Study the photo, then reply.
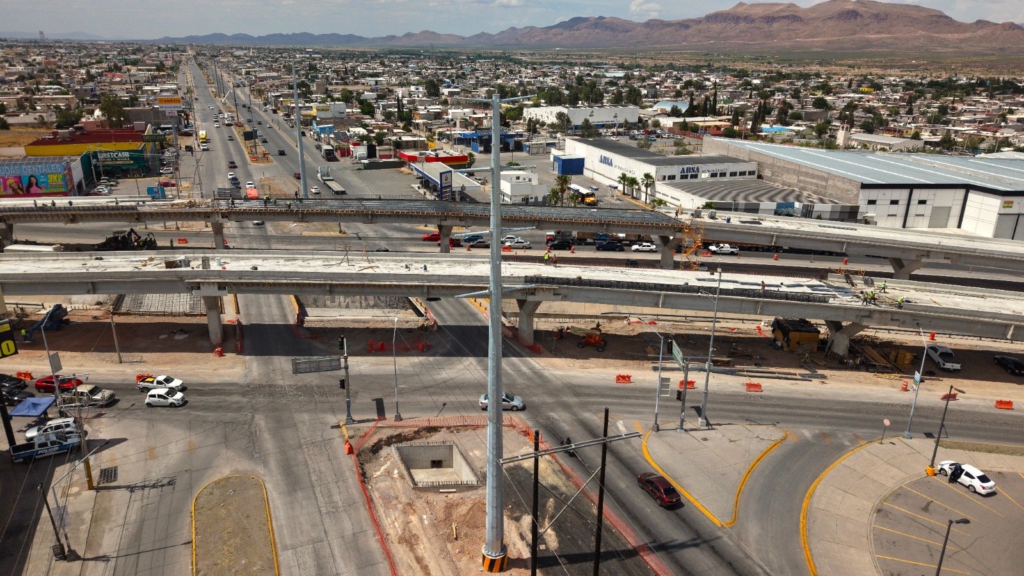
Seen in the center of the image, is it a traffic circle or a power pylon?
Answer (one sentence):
The feature located in the center of the image is a power pylon.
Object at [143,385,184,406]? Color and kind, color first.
white car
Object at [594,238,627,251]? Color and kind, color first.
black vehicle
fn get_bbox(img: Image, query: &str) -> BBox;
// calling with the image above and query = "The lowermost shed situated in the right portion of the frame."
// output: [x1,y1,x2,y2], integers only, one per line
[771,316,819,352]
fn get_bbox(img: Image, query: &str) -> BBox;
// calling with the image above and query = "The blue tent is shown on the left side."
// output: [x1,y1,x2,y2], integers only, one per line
[9,396,54,422]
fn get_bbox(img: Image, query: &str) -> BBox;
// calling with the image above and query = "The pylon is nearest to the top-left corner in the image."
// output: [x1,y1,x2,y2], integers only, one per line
[292,61,309,193]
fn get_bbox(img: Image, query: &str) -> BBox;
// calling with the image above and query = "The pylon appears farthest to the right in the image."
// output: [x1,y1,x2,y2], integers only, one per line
[448,94,539,571]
